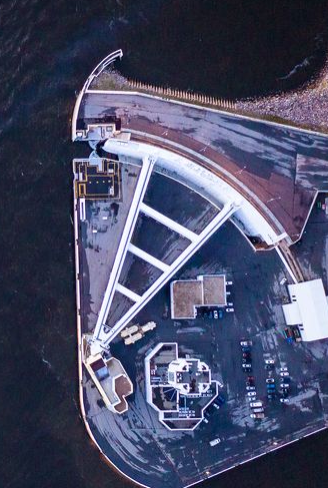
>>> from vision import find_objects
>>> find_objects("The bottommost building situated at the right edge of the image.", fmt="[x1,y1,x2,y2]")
[277,278,328,342]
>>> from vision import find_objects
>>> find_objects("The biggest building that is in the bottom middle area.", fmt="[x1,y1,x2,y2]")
[145,344,223,429]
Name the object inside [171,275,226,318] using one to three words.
building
